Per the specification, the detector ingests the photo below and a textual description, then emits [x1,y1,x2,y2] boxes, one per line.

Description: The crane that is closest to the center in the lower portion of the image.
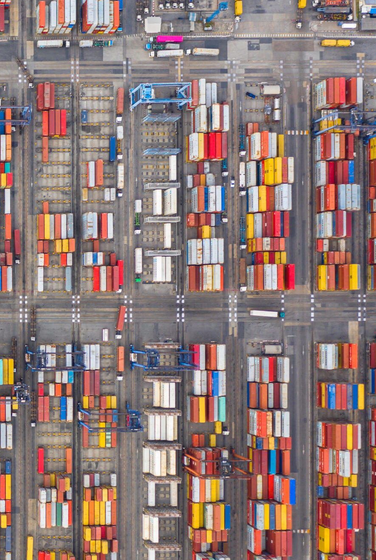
[128,346,193,373]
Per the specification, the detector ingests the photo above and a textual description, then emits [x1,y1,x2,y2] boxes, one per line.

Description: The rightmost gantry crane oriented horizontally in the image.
[308,108,376,139]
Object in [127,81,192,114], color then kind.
blue container crane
